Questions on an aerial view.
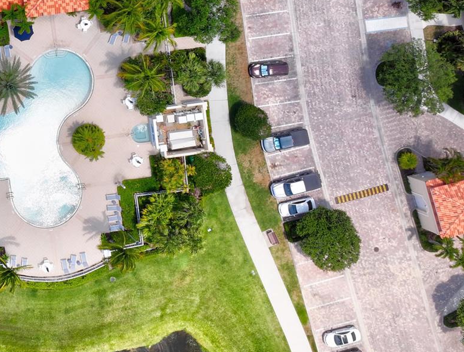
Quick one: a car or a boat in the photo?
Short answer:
car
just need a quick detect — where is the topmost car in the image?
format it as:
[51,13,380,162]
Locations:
[248,60,289,79]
